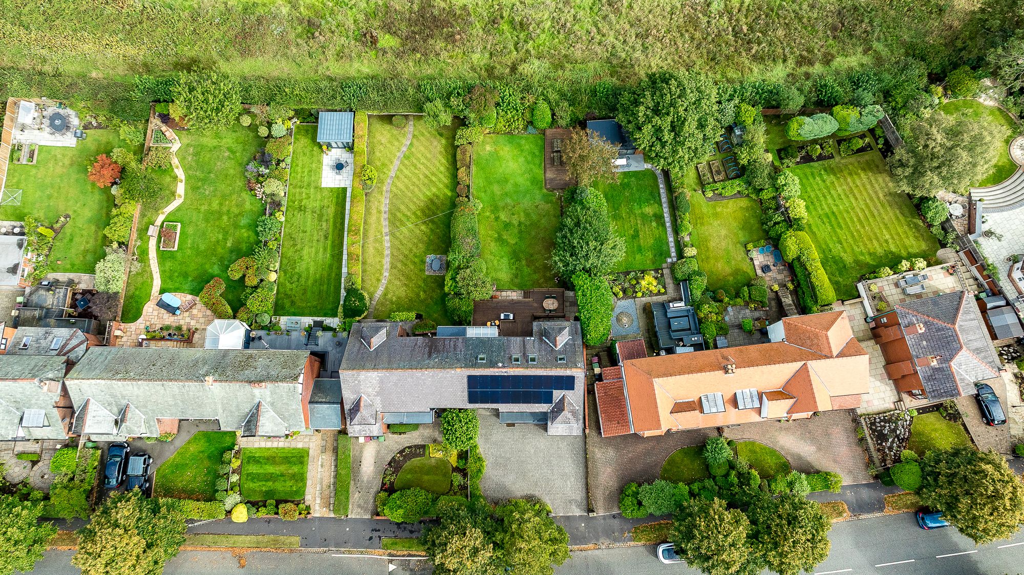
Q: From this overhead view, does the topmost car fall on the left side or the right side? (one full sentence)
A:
The topmost car appears in the right half of the scene.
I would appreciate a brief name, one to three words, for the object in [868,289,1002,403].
house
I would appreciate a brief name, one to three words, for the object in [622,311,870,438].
house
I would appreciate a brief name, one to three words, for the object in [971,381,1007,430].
car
